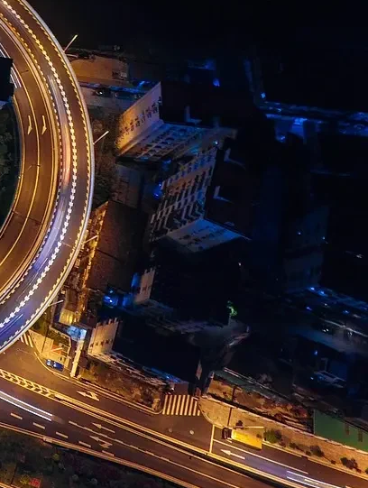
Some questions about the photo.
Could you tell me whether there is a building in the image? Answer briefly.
Yes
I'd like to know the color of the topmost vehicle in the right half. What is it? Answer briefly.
yellow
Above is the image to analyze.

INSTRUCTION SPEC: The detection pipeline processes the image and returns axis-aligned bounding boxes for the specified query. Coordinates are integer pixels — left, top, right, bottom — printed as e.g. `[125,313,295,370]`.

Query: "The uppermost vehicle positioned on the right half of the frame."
[224,427,269,447]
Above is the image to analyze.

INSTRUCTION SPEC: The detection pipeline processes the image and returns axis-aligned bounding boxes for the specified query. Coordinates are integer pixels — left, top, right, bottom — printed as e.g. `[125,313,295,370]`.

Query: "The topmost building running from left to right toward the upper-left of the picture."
[72,57,129,86]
